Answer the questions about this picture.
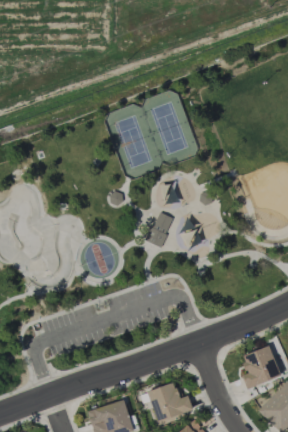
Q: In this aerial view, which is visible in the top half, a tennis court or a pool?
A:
tennis court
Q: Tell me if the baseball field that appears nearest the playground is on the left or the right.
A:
right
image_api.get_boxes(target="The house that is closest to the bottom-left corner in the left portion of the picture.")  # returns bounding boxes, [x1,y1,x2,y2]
[88,398,134,432]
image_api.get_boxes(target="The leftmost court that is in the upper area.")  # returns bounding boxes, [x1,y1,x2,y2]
[108,104,162,178]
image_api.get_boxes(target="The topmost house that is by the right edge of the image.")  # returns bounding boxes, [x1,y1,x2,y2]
[240,346,280,389]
